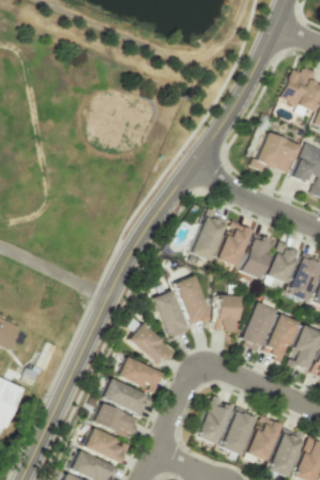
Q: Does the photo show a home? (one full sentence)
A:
Yes, the image includes a home.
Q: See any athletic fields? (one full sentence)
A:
Yes, an athletic field is visible in the scene.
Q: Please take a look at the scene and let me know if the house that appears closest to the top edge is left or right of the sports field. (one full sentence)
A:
The sports field has the house that appears closest to the top edge on its right side.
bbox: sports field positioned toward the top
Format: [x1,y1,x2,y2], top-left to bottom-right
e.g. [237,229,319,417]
[79,88,154,156]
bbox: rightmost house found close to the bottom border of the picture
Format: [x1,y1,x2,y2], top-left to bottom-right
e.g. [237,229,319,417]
[296,436,320,480]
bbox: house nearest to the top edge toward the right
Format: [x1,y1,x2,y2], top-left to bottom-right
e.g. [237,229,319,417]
[279,65,320,114]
